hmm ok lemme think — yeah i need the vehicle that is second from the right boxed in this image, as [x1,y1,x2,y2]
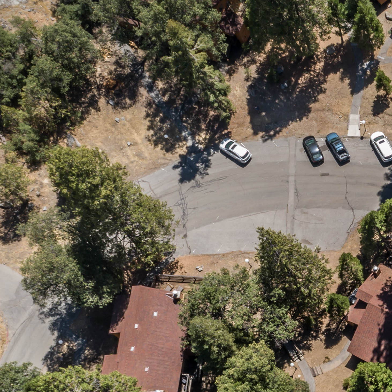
[326,130,351,166]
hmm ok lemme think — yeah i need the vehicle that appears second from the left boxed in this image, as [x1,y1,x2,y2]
[302,133,326,167]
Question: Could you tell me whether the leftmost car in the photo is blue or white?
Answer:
white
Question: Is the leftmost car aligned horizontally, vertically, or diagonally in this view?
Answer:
diagonally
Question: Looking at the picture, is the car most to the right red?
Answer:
No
